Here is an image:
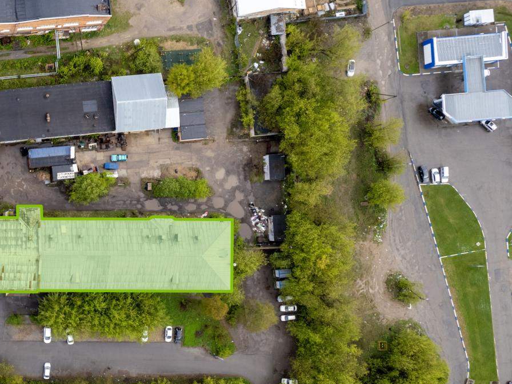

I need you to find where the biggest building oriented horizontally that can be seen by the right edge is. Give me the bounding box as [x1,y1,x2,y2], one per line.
[418,30,510,67]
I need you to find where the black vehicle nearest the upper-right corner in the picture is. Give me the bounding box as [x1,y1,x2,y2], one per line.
[431,104,448,121]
